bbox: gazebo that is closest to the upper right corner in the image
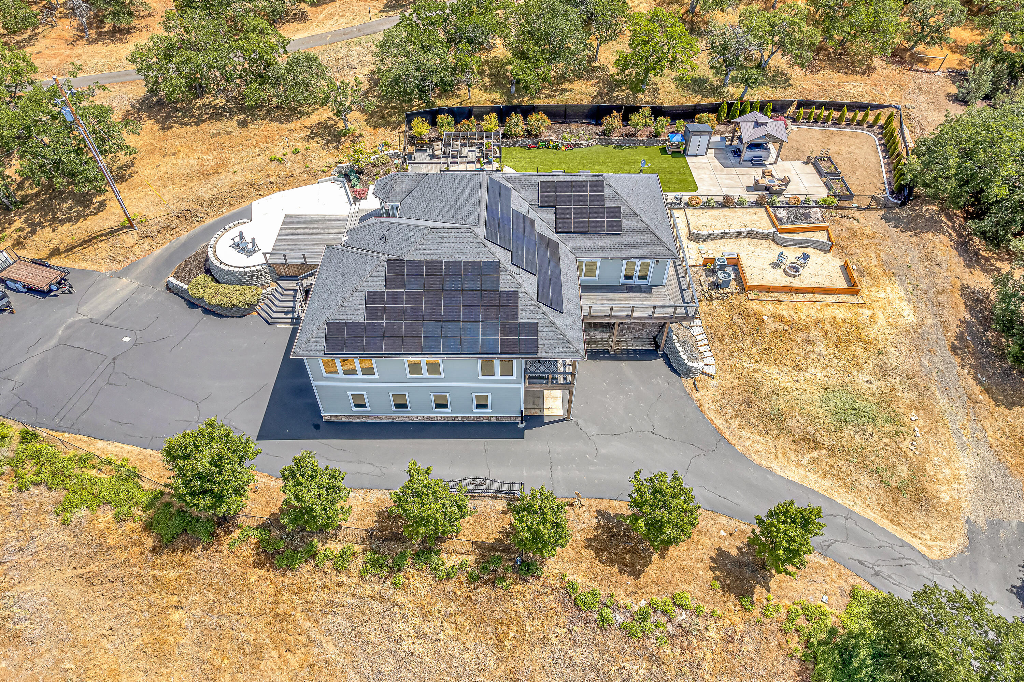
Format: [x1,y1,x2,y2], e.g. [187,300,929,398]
[732,107,791,164]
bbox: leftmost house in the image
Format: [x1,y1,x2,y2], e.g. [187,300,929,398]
[290,164,680,430]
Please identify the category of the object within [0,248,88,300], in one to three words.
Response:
trailer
